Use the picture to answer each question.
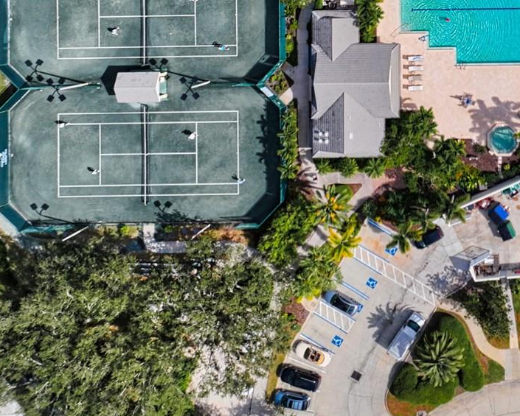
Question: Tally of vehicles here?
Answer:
6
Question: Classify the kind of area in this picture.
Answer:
sports ground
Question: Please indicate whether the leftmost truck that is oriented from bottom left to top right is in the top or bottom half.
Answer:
bottom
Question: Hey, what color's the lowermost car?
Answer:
blue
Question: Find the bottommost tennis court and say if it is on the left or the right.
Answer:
left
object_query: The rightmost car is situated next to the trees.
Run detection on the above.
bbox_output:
[413,222,446,251]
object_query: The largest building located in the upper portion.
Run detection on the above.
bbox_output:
[312,12,400,158]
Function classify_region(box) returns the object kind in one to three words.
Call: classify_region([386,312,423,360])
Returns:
truck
